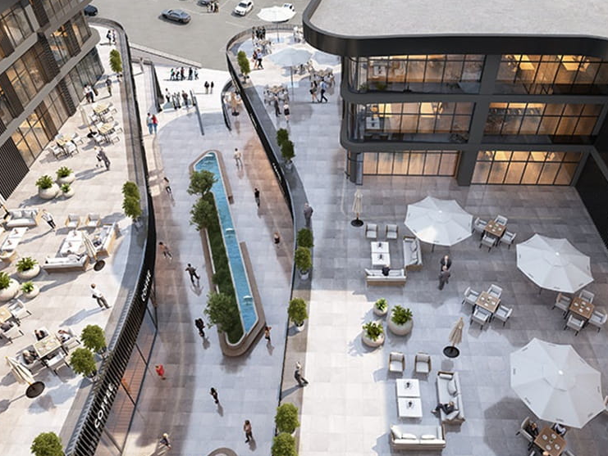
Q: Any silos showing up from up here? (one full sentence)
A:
No, the picture doesn't show any silo.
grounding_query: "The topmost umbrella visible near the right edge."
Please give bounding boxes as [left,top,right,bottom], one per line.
[513,238,593,300]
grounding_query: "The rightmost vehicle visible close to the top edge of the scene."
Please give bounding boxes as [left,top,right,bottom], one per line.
[278,0,301,13]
